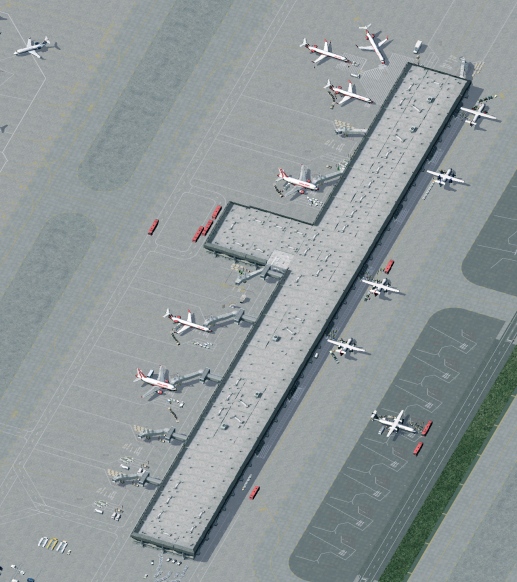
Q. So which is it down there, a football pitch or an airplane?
airplane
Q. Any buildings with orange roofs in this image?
No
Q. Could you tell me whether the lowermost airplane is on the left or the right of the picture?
right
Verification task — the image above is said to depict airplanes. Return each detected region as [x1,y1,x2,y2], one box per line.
[327,340,362,363]
[15,36,51,56]
[461,105,495,127]
[128,365,176,399]
[362,280,397,302]
[162,308,211,336]
[427,170,461,192]
[373,410,416,438]
[273,164,318,196]
[354,23,389,63]
[324,80,373,107]
[301,39,349,66]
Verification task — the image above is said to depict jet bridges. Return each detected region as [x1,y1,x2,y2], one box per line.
[111,471,162,493]
[311,168,345,188]
[333,128,369,140]
[168,368,222,389]
[202,309,254,330]
[234,264,284,287]
[458,55,466,80]
[137,427,187,448]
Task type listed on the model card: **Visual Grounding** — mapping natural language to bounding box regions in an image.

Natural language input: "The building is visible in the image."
[131,63,473,558]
